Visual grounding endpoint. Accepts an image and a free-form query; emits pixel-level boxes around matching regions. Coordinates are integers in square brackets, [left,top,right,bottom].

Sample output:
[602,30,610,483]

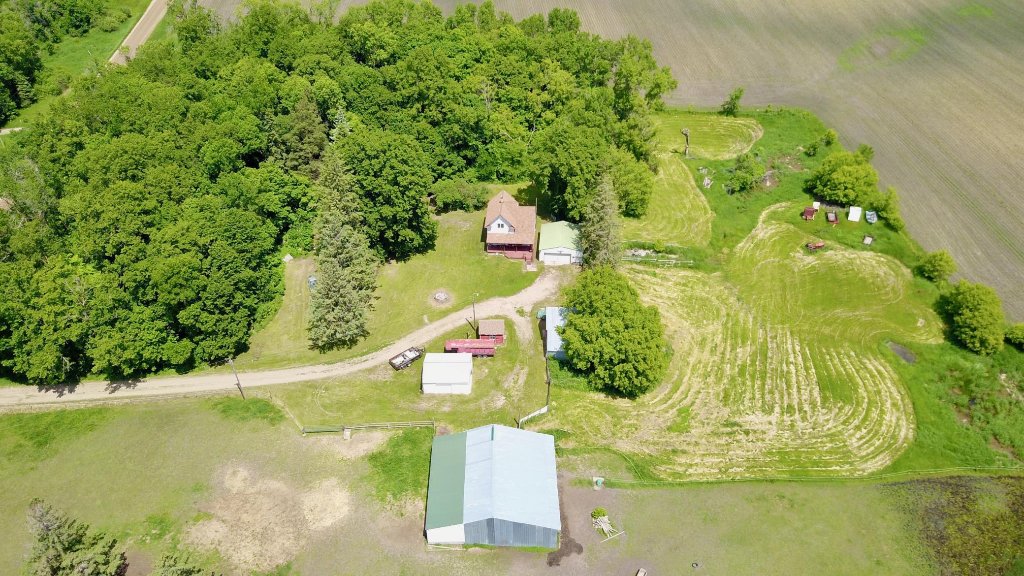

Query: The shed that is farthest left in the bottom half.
[421,352,473,394]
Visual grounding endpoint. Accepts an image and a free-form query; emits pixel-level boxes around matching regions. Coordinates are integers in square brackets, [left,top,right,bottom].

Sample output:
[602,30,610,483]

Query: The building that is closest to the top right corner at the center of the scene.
[539,218,585,262]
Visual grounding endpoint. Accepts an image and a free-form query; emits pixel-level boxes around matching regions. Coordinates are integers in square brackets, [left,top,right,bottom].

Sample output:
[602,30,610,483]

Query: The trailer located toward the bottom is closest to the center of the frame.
[445,340,494,359]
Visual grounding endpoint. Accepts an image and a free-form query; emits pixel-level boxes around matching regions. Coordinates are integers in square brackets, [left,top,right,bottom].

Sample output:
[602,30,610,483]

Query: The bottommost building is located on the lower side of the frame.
[425,423,559,545]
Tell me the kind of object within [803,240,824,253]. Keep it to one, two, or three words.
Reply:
vehicle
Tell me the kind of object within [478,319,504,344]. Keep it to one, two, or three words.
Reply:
shed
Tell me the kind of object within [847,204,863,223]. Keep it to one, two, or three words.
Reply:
vehicle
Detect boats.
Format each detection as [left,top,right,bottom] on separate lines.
[866,210,878,224]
